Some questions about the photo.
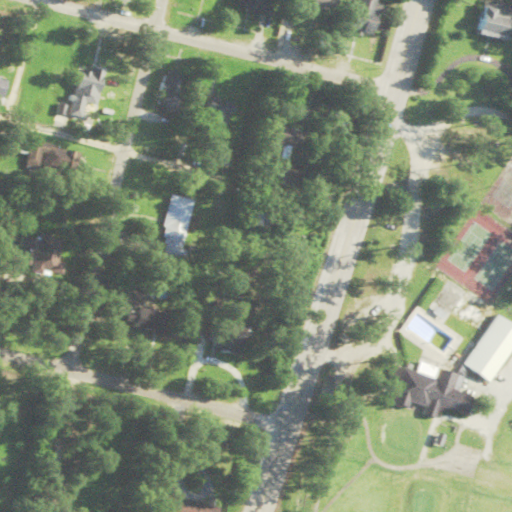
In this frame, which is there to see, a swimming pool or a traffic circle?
swimming pool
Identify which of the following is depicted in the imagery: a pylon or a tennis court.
tennis court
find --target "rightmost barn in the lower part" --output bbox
[462,314,512,383]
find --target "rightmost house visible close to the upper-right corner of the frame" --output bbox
[476,6,512,38]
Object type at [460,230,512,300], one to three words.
tennis court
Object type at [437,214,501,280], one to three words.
tennis court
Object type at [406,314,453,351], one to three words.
swimming pool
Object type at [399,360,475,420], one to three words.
building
